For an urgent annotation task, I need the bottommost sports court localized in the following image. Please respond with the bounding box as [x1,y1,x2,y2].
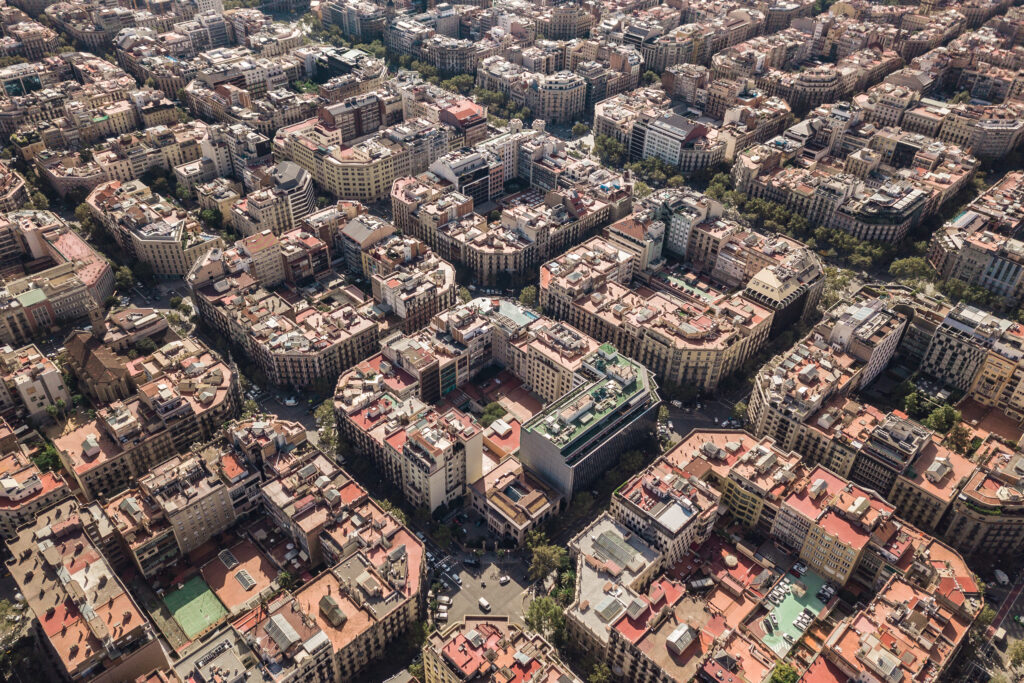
[161,574,234,647]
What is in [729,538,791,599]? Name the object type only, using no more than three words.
building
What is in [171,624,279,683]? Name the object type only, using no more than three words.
building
